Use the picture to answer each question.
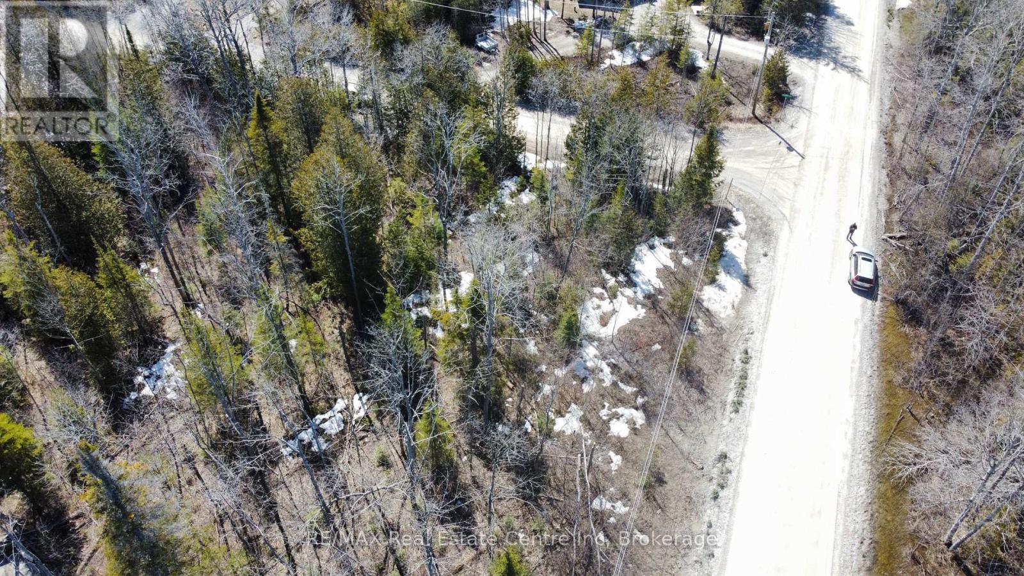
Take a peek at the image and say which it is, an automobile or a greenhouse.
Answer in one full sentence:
This aerial view contains an automobile.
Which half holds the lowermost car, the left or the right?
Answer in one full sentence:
The lowermost car sits on the right side.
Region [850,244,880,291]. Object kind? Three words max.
car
